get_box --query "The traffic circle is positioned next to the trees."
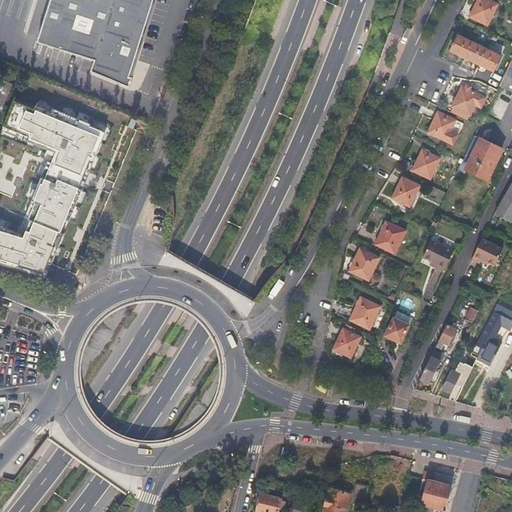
[50,273,250,472]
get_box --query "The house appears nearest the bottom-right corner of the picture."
[420,478,454,512]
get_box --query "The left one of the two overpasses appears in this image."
[42,414,144,497]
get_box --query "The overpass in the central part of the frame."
[154,248,255,318]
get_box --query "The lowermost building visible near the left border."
[0,220,64,274]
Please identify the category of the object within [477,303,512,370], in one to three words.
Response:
house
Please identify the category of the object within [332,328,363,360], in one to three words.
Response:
house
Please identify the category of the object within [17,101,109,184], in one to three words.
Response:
building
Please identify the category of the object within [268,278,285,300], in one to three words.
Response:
vehicle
